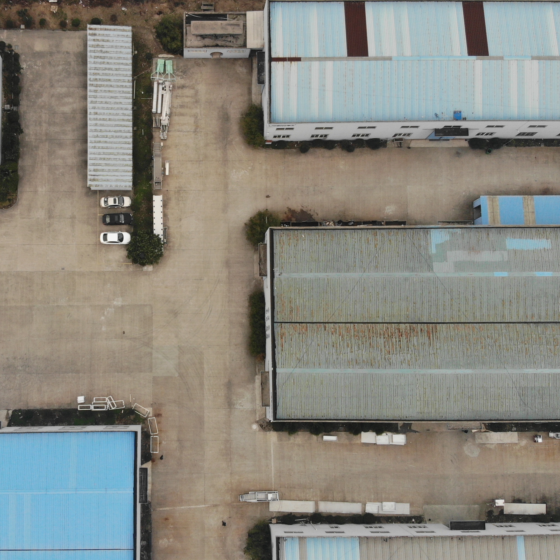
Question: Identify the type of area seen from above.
industrial area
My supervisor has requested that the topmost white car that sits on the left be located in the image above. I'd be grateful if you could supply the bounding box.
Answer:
[100,196,132,210]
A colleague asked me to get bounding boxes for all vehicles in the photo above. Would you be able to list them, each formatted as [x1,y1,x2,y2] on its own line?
[102,212,133,226]
[100,196,132,210]
[100,231,130,245]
